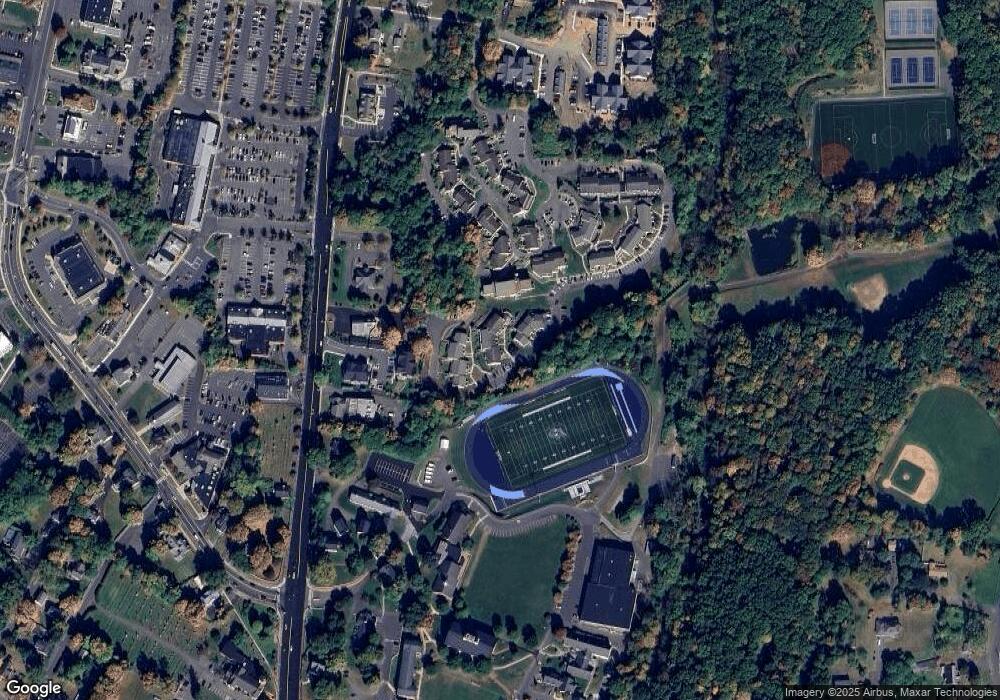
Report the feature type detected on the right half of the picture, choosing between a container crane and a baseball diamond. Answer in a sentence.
Visible on the right half of the picture is a baseball diamond.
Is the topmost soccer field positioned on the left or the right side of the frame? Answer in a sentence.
The topmost soccer field is on the right side of the image.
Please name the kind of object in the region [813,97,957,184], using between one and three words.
soccer field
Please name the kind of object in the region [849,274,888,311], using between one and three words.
baseball field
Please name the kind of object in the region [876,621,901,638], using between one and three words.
house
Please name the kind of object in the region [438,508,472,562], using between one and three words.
building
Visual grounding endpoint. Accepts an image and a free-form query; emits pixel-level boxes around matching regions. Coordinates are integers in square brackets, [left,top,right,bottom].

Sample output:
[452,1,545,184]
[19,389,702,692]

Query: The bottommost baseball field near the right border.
[880,387,1000,516]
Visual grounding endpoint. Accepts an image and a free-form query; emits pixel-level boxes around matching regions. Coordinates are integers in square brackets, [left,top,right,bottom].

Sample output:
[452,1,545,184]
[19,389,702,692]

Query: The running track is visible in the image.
[465,363,660,511]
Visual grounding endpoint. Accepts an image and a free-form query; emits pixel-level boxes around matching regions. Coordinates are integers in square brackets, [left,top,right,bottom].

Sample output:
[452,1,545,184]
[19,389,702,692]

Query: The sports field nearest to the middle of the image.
[486,377,627,486]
